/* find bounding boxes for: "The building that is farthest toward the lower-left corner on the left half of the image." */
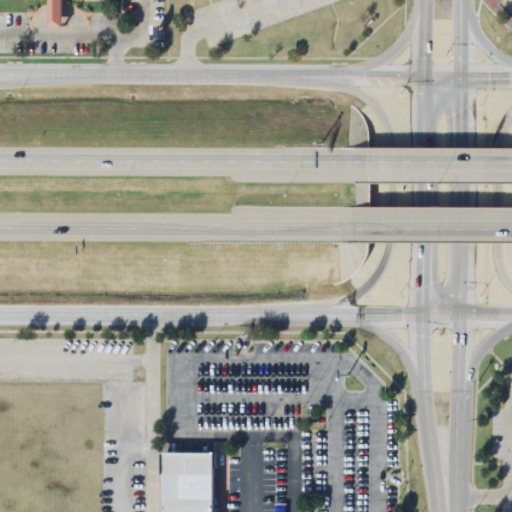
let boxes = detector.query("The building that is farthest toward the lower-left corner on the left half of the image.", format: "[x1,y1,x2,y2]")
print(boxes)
[160,449,220,512]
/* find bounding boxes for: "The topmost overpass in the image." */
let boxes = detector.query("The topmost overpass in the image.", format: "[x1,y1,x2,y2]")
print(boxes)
[352,148,512,182]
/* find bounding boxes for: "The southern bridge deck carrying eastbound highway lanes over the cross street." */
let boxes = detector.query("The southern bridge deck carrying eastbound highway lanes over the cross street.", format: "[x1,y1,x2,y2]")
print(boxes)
[352,206,512,242]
